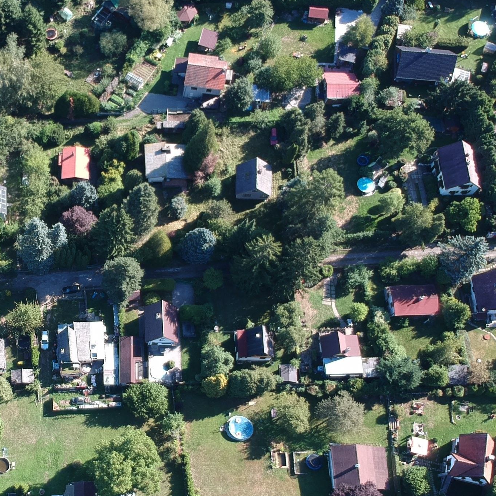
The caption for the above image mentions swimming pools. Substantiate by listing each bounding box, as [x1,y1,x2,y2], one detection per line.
[470,22,490,39]
[150,360,169,379]
[227,416,253,442]
[354,177,375,194]
[0,454,14,478]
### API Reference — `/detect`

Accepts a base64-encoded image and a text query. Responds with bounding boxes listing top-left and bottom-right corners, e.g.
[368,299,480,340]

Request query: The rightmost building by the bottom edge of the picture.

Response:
[440,432,496,486]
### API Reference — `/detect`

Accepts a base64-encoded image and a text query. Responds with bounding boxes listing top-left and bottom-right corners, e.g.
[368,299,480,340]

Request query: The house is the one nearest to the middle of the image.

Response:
[234,158,272,206]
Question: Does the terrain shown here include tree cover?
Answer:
Yes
